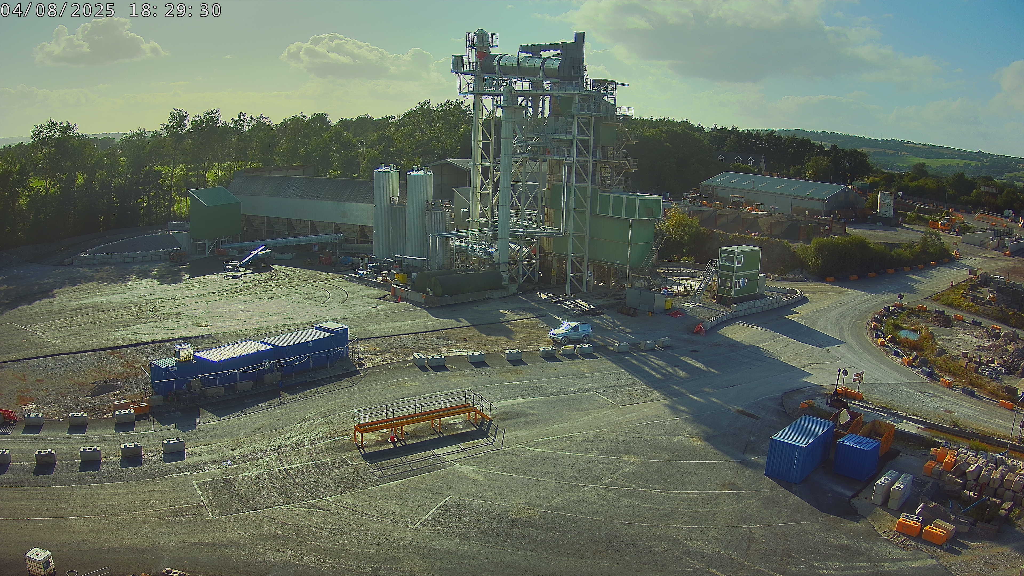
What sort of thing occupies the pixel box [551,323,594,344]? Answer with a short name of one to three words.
car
